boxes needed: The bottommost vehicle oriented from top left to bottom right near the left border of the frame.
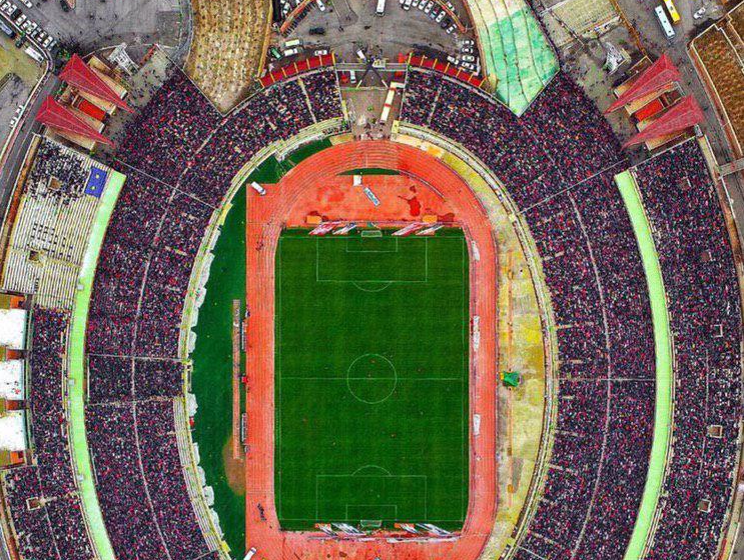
[21,44,44,61]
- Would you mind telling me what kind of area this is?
sports ground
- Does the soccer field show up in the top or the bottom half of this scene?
bottom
